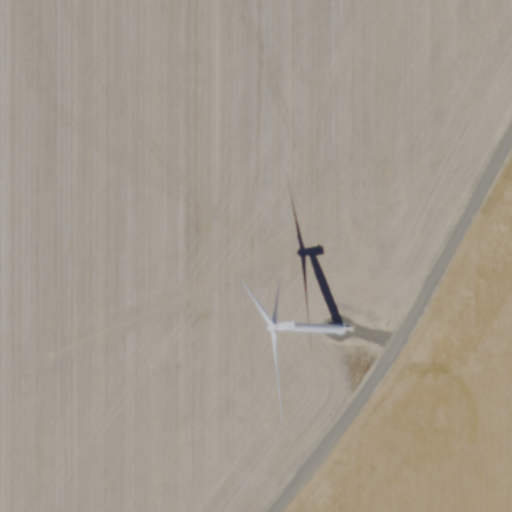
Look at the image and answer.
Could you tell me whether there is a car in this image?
No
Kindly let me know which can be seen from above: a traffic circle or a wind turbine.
wind turbine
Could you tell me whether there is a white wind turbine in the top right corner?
No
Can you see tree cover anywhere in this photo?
No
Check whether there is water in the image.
No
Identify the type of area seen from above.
farmland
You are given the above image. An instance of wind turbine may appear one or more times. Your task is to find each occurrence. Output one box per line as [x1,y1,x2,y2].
[244,280,349,417]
